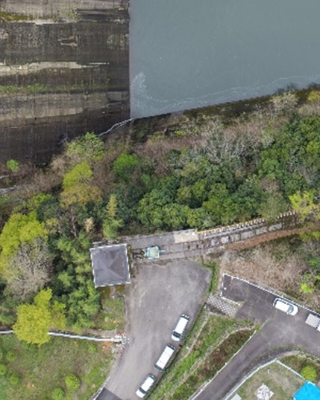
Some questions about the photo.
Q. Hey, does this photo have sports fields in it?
No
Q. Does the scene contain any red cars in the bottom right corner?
No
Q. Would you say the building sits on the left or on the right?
left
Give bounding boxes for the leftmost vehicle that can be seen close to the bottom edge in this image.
[135,375,157,400]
